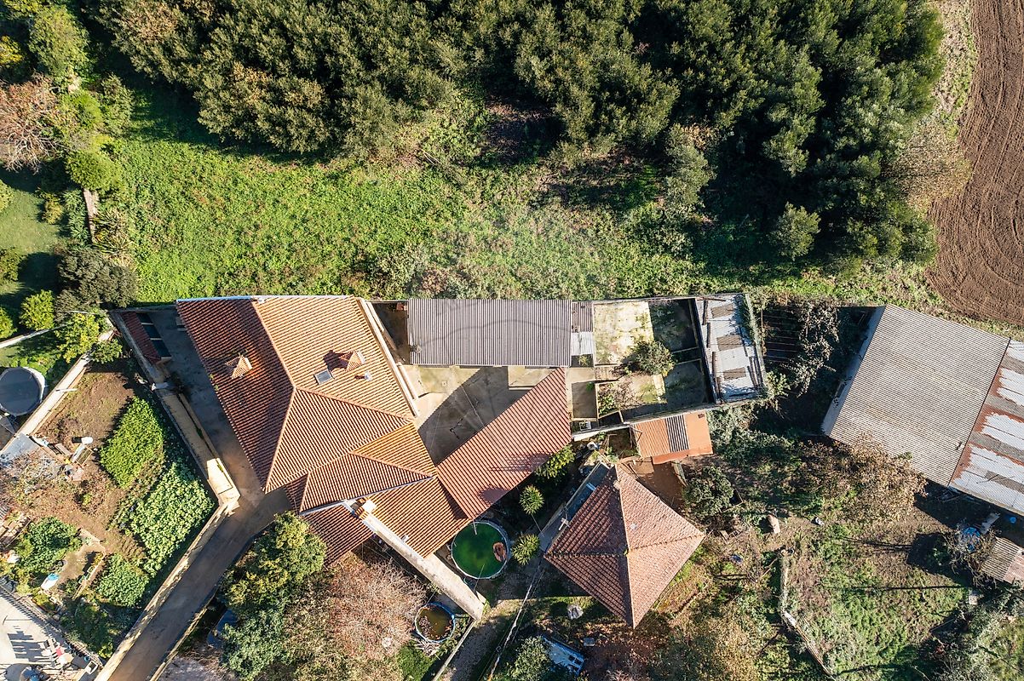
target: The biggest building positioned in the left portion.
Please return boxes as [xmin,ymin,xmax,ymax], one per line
[175,293,467,564]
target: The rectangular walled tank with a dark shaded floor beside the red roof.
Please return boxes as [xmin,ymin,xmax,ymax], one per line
[569,382,600,420]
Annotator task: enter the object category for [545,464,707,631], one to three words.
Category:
house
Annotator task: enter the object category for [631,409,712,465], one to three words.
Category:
shed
